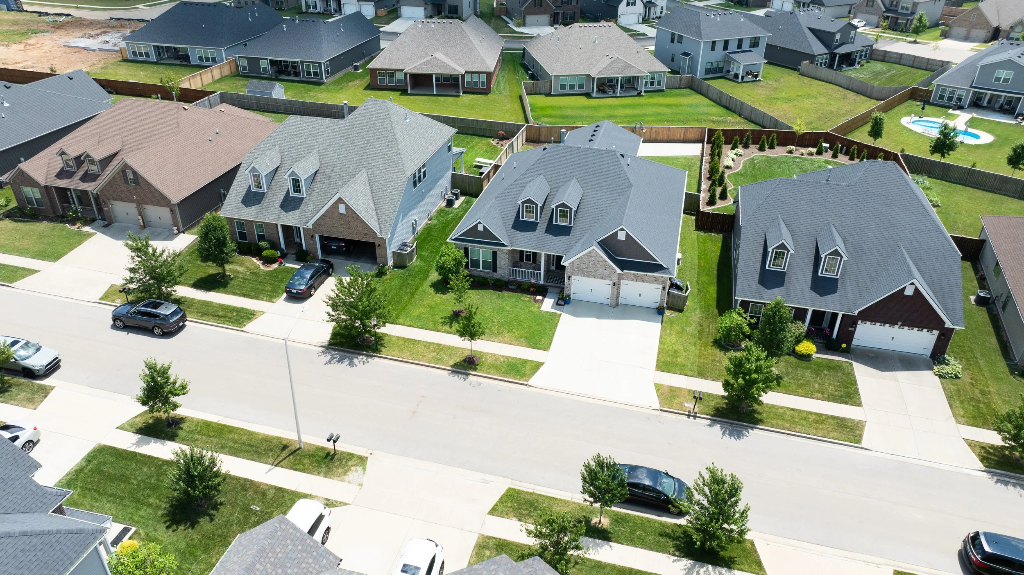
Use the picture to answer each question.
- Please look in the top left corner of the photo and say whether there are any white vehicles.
No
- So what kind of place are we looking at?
residential area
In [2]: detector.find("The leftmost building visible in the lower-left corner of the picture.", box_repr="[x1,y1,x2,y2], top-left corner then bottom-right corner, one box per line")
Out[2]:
[0,434,117,575]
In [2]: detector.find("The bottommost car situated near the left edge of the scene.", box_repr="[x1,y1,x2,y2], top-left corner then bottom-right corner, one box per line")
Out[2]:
[0,420,40,452]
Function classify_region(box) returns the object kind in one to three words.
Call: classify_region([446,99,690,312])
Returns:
house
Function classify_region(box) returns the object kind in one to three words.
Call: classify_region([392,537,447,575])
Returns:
car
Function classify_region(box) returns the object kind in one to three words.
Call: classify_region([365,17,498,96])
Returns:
house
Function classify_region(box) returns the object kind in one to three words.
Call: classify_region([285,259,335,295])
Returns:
car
